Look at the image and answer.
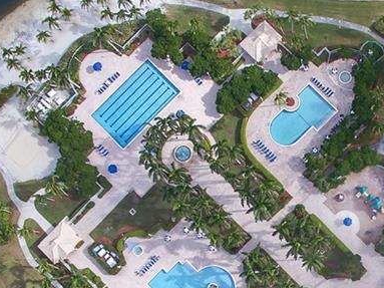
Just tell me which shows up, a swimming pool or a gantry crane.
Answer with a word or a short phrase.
swimming pool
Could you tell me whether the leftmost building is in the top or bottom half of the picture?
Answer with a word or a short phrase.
bottom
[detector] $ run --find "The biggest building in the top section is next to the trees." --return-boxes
[239,19,282,63]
